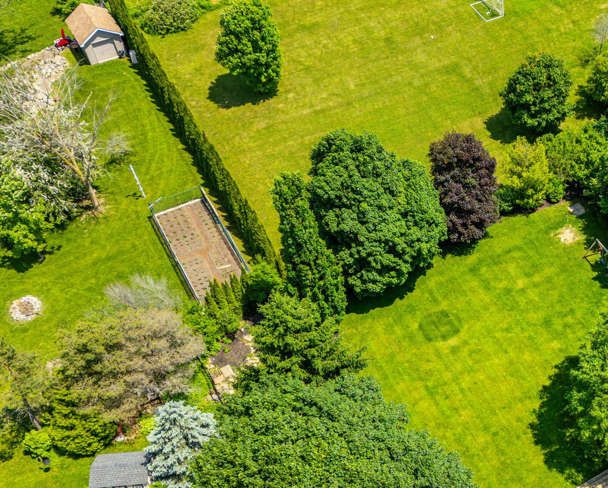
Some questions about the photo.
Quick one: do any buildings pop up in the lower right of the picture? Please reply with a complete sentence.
No, in the lower right of the picture there is no building.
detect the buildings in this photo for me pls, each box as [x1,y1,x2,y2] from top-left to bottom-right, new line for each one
[60,1,128,66]
[86,449,164,488]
